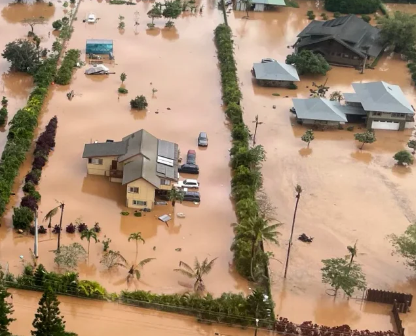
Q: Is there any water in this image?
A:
Yes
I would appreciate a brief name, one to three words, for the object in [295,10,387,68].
house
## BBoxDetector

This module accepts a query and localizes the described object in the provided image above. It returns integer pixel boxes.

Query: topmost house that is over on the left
[83,129,179,207]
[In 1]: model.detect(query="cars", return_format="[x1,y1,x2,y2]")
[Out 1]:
[177,163,200,174]
[177,192,202,202]
[154,192,175,201]
[285,108,296,117]
[197,132,206,145]
[186,150,196,162]
[178,179,200,189]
